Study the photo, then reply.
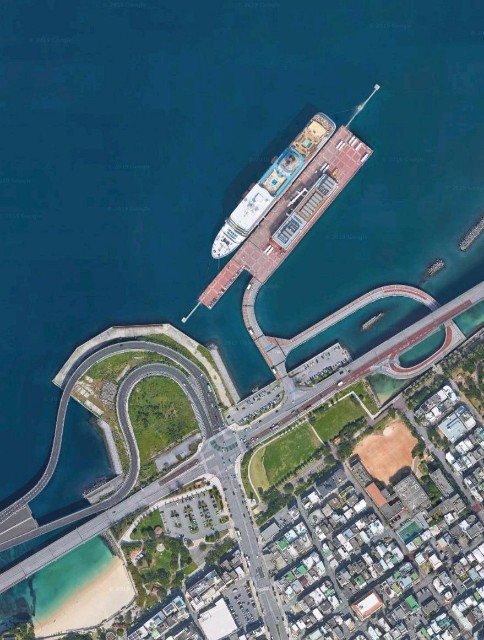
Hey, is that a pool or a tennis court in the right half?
pool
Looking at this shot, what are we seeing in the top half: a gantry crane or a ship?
ship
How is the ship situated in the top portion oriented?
at an angle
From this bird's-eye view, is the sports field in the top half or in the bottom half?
bottom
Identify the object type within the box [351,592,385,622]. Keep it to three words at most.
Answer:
building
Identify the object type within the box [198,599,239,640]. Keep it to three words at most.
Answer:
building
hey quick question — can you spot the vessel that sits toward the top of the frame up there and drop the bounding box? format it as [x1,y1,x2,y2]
[214,109,336,259]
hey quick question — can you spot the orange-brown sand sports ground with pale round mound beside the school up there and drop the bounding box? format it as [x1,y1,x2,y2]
[356,420,418,486]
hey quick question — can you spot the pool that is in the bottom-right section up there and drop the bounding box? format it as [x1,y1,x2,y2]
[396,519,425,544]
